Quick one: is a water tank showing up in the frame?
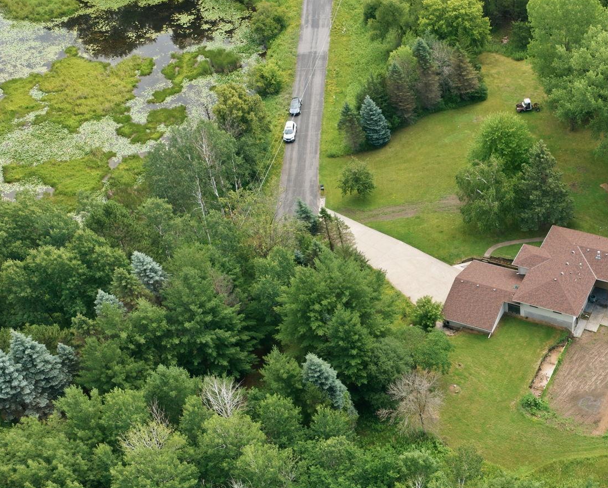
No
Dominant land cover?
trees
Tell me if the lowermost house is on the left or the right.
right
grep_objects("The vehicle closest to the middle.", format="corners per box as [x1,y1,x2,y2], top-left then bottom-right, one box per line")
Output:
[281,121,297,141]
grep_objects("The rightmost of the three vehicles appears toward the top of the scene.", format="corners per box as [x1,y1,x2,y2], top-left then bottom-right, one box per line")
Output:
[515,98,545,112]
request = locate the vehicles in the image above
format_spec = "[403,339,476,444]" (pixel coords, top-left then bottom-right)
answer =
[281,121,297,141]
[288,96,302,114]
[515,98,545,112]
